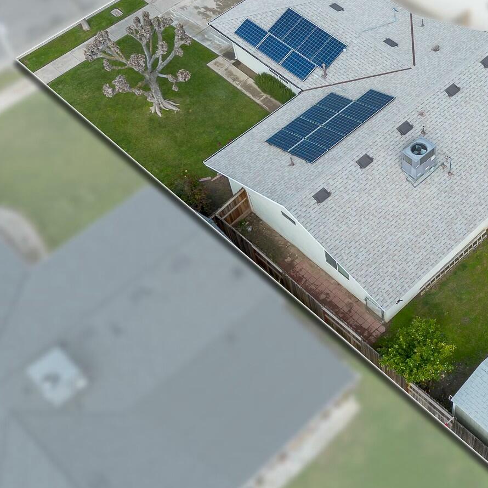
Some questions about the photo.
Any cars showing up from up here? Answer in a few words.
No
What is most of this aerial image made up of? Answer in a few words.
buildings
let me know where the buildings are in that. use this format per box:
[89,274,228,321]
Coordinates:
[203,0,488,322]
[0,189,361,488]
[446,355,488,447]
